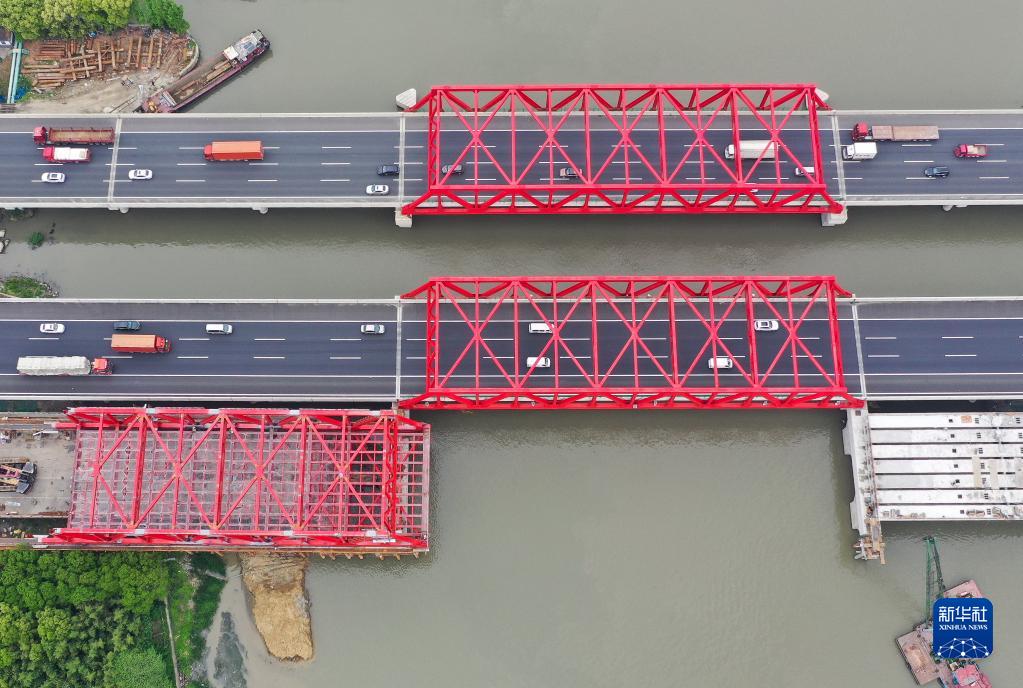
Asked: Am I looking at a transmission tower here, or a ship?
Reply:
ship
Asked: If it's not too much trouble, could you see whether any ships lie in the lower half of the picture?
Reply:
Yes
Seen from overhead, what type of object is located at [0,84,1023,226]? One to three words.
bridge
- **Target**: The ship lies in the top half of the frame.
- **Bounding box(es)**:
[132,28,272,114]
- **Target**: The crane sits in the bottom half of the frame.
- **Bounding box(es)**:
[0,460,37,496]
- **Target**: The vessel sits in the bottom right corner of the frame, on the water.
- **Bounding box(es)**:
[893,532,997,688]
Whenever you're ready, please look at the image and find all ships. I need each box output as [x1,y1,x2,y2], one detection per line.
[893,532,997,688]
[132,28,272,114]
